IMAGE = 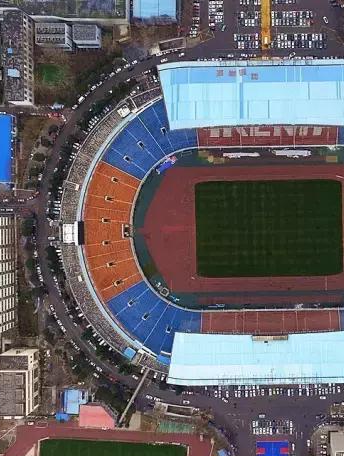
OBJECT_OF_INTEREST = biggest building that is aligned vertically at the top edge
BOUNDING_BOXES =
[1,11,34,106]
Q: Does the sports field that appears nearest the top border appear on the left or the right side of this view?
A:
right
